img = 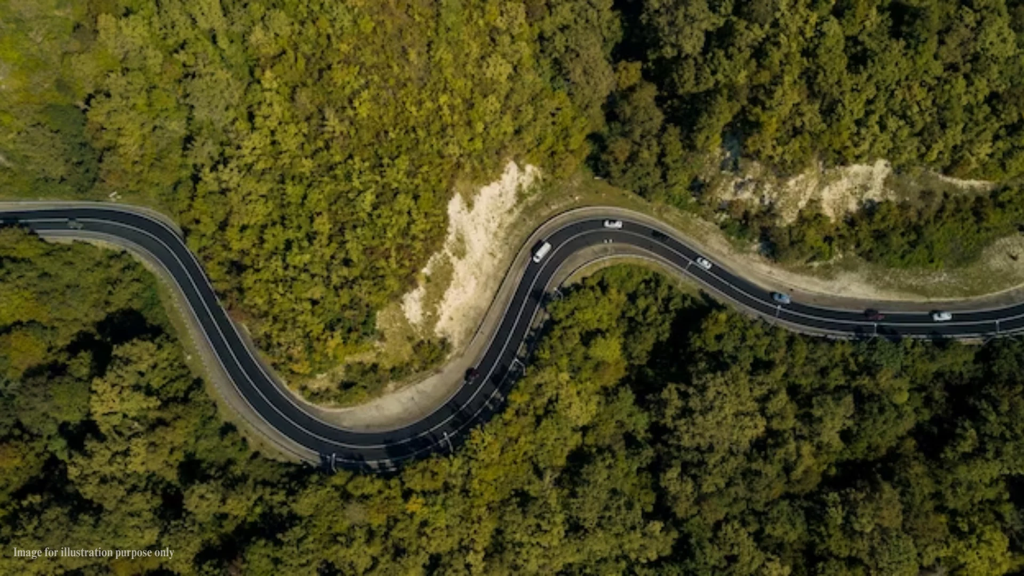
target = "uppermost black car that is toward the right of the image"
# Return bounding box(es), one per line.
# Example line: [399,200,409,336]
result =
[653,230,672,243]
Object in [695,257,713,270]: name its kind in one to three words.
vehicle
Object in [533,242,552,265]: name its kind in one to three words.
vehicle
